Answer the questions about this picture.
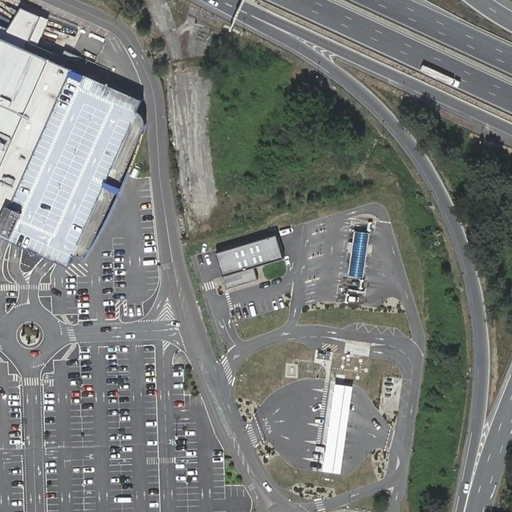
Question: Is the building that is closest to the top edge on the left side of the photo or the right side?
left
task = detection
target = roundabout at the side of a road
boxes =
[0,302,63,368]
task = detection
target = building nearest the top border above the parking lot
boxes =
[6,8,53,56]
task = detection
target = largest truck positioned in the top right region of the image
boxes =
[420,62,458,85]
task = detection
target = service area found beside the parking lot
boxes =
[185,203,425,512]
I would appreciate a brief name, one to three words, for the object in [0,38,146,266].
building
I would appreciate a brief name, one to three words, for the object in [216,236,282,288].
building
